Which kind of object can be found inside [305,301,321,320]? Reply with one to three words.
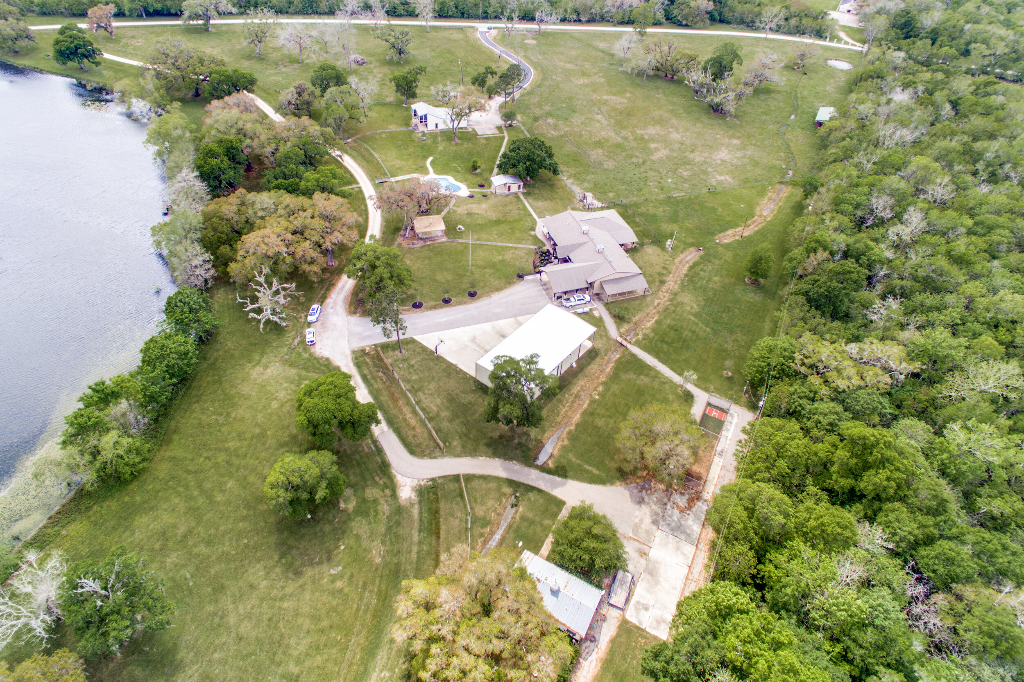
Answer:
car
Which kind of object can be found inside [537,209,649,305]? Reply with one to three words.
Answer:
house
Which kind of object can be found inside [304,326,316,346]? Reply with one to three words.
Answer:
vehicle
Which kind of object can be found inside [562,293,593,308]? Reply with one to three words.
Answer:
vehicle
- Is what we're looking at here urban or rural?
rural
